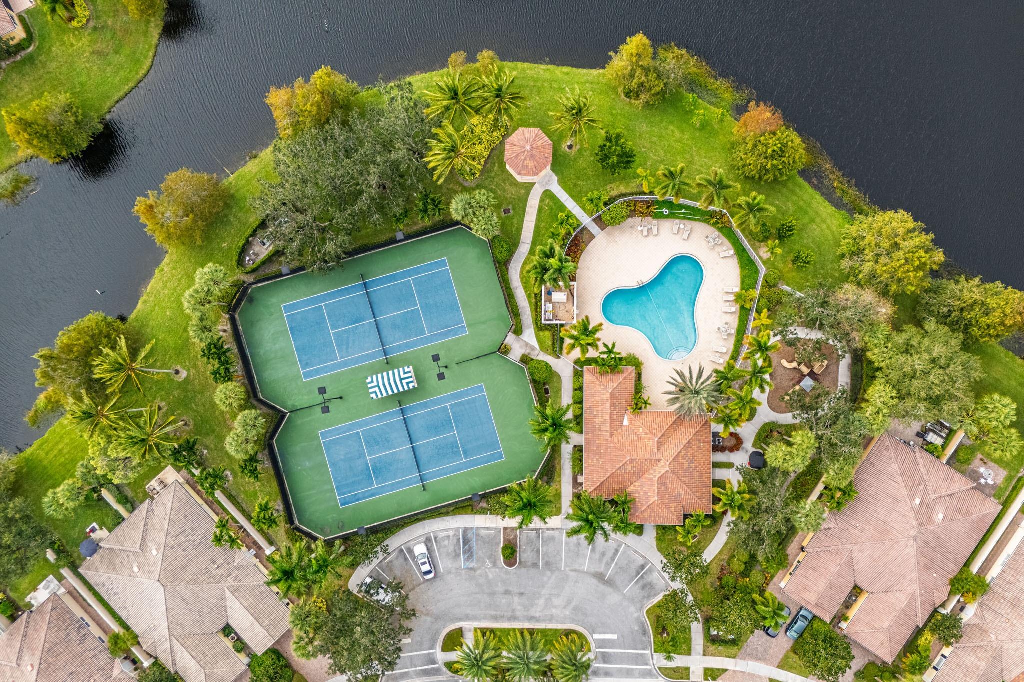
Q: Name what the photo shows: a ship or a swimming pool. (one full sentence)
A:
I can see a swimming pool in this picture.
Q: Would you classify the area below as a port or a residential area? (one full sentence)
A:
The picture captures a residential area.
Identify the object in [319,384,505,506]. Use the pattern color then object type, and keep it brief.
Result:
blue tennis court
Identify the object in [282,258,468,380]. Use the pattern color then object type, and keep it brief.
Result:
blue tennis court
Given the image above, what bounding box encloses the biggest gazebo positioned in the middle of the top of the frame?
[504,128,552,180]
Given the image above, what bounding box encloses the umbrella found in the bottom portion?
[81,538,101,557]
